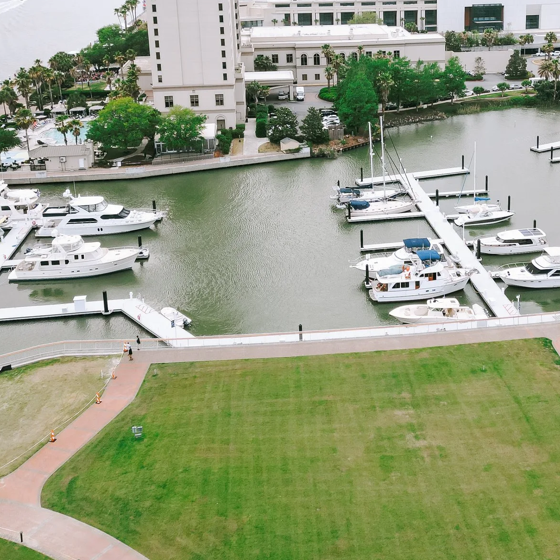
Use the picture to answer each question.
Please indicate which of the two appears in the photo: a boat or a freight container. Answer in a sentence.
The image shows a boat.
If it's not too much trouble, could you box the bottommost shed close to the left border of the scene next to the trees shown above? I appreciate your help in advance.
[26,141,104,172]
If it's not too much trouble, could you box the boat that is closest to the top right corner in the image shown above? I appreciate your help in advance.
[457,146,504,212]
